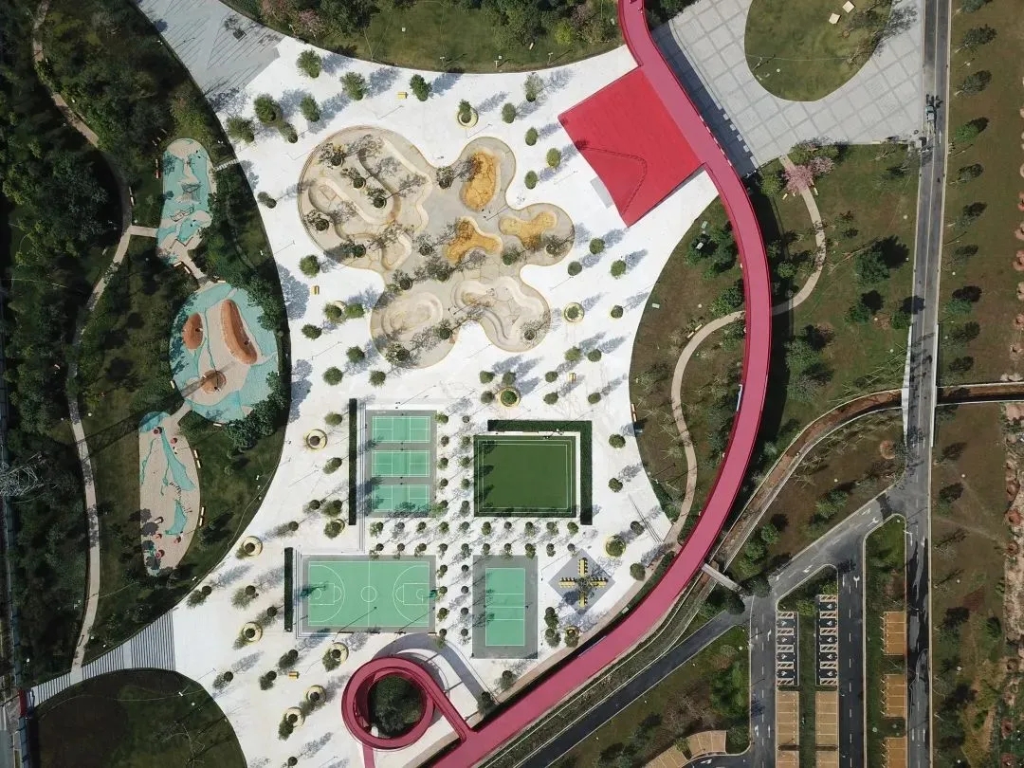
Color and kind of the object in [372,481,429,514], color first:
green sports court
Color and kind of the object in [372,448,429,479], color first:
green sports court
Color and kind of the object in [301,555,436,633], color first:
green basketball court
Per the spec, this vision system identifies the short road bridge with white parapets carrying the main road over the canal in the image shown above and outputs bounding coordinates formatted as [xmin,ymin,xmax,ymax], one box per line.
[904,324,940,447]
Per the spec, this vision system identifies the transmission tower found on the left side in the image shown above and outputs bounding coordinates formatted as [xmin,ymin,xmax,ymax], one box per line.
[0,455,48,492]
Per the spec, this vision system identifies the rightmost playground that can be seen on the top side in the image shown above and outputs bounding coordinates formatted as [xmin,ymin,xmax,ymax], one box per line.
[299,126,574,367]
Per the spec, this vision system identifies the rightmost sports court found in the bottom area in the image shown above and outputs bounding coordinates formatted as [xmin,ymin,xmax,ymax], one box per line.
[473,555,538,659]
